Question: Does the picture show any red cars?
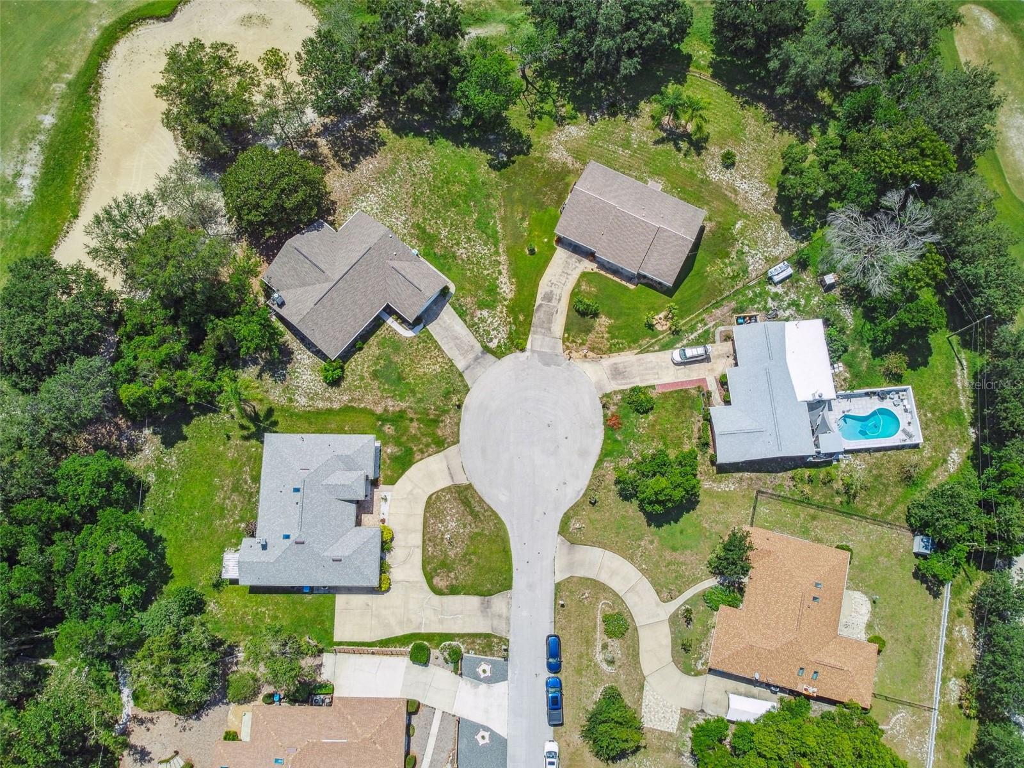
No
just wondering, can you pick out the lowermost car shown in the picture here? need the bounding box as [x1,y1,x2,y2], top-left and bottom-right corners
[542,740,562,768]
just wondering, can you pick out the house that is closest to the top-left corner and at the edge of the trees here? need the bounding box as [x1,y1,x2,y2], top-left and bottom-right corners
[261,211,451,361]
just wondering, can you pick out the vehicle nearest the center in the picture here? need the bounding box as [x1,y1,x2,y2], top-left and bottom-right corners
[670,342,717,364]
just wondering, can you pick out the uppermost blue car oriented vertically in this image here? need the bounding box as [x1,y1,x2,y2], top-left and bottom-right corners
[545,634,564,673]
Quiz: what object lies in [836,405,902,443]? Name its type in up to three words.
swimming pool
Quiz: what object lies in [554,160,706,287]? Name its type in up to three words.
house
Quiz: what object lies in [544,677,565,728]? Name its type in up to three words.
truck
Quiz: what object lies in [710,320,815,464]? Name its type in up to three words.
house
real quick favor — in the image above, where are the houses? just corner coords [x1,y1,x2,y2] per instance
[710,320,815,464]
[213,696,407,768]
[708,528,878,709]
[261,211,451,361]
[238,434,381,587]
[554,160,706,287]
